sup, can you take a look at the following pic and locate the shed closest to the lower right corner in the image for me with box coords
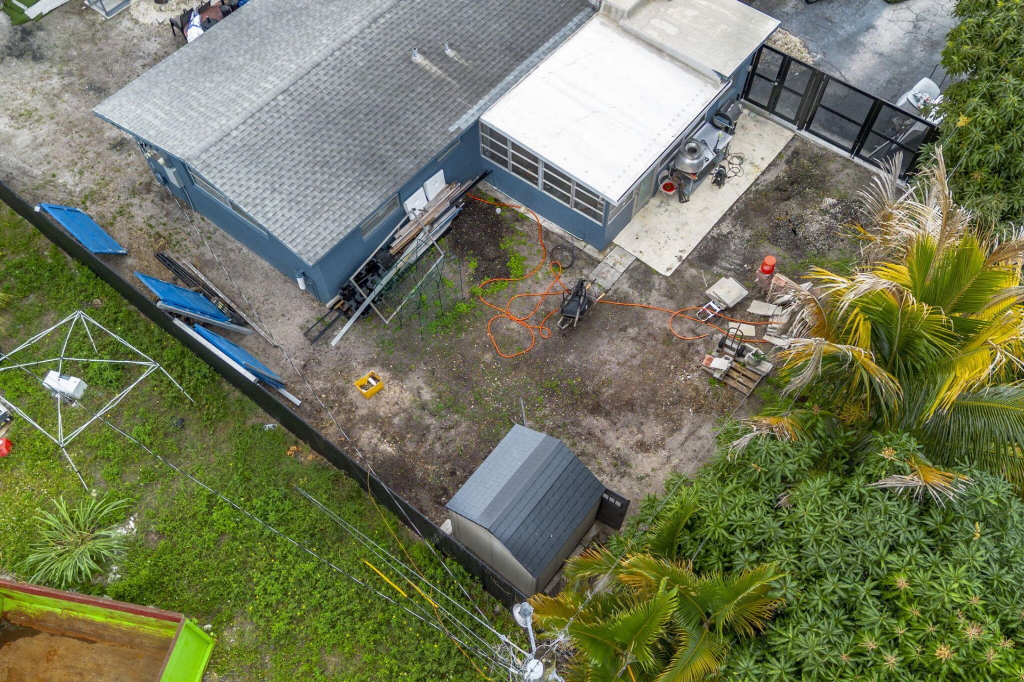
[444,425,629,597]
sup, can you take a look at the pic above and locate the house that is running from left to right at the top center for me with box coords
[90,0,784,308]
